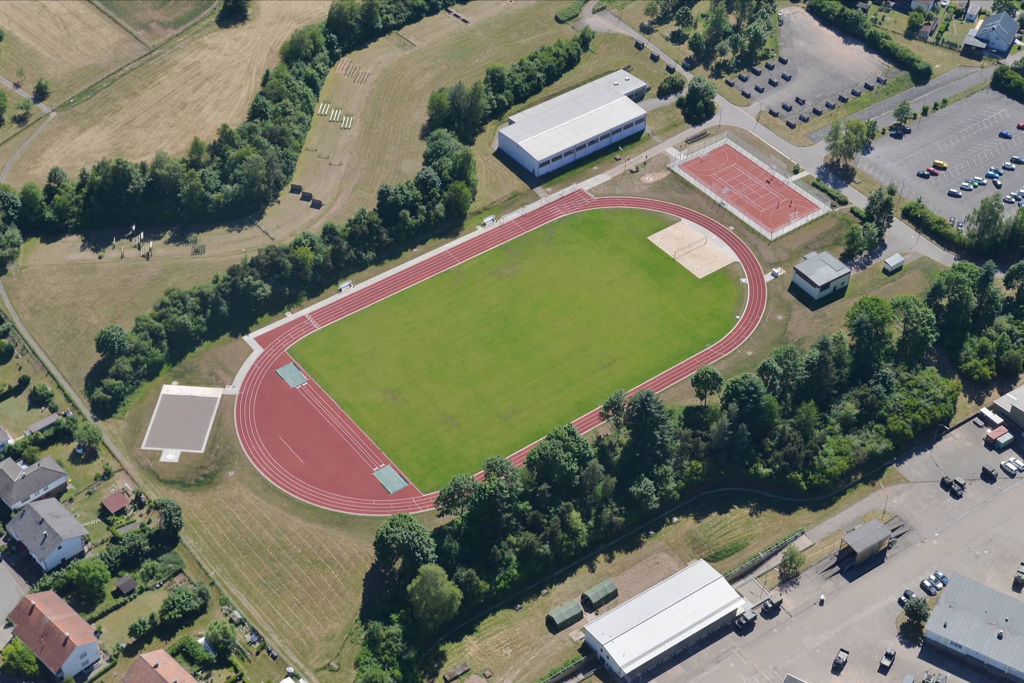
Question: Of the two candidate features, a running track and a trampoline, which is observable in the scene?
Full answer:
There is a running track in the scene.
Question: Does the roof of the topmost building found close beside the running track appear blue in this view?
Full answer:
No, the roof of the topmost building found close beside the running track is actually white.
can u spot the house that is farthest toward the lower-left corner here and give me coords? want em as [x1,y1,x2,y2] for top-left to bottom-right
[8,591,99,678]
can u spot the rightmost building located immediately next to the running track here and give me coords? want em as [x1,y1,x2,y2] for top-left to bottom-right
[789,251,852,300]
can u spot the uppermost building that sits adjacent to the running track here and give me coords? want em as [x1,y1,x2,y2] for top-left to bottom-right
[498,67,647,177]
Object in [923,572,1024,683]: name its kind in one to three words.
building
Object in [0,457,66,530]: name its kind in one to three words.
house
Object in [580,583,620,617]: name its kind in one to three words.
tent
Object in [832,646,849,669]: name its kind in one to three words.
vehicle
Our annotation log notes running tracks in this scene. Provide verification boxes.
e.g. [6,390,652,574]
[234,187,766,515]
